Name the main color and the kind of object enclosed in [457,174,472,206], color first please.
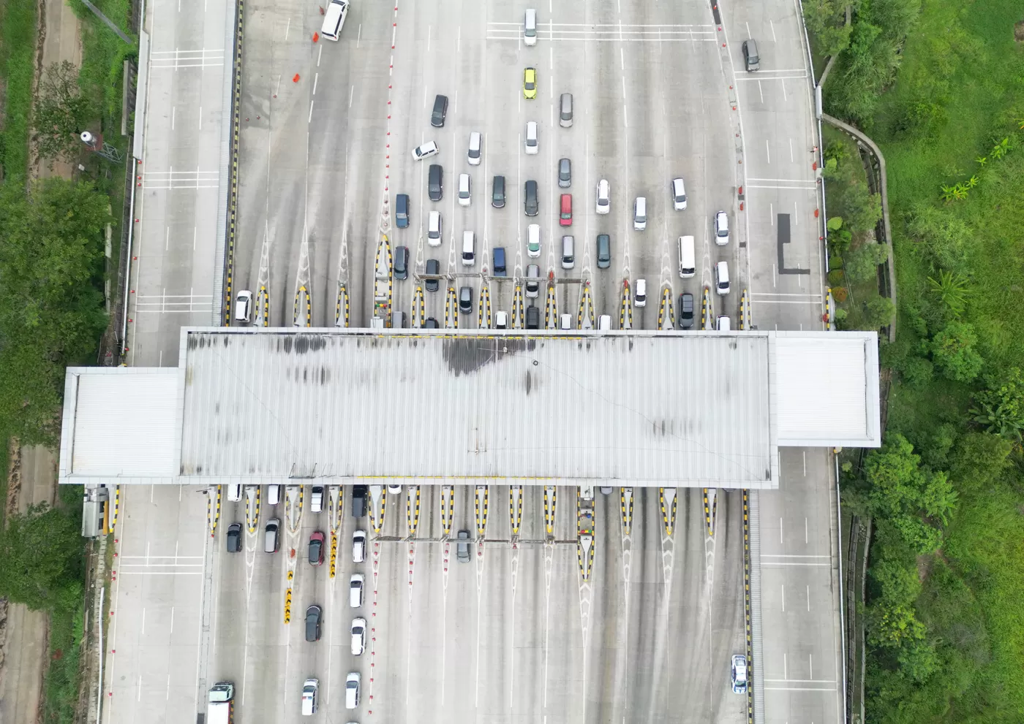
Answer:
white car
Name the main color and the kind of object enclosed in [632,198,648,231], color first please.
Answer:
white car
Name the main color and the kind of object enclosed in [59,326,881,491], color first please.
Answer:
white toll station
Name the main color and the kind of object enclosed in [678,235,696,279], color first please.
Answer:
white vehicle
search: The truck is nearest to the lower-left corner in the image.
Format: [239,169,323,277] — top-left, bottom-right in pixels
[209,681,235,724]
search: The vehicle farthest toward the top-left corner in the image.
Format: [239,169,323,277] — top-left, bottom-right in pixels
[321,0,349,42]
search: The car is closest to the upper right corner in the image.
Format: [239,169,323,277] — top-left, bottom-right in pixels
[741,40,760,72]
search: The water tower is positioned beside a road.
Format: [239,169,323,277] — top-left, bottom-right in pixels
[82,131,129,168]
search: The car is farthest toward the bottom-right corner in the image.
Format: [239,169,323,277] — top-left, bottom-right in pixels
[730,655,749,693]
